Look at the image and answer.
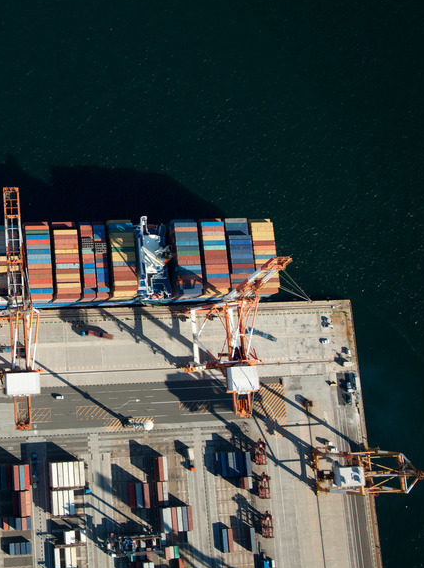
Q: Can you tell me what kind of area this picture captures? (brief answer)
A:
port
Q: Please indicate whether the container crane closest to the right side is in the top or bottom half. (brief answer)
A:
bottom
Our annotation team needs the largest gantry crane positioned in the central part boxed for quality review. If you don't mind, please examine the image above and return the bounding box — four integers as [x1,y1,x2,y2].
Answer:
[173,254,285,418]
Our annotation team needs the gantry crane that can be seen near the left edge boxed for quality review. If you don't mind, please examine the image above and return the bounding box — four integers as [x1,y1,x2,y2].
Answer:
[0,185,48,430]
